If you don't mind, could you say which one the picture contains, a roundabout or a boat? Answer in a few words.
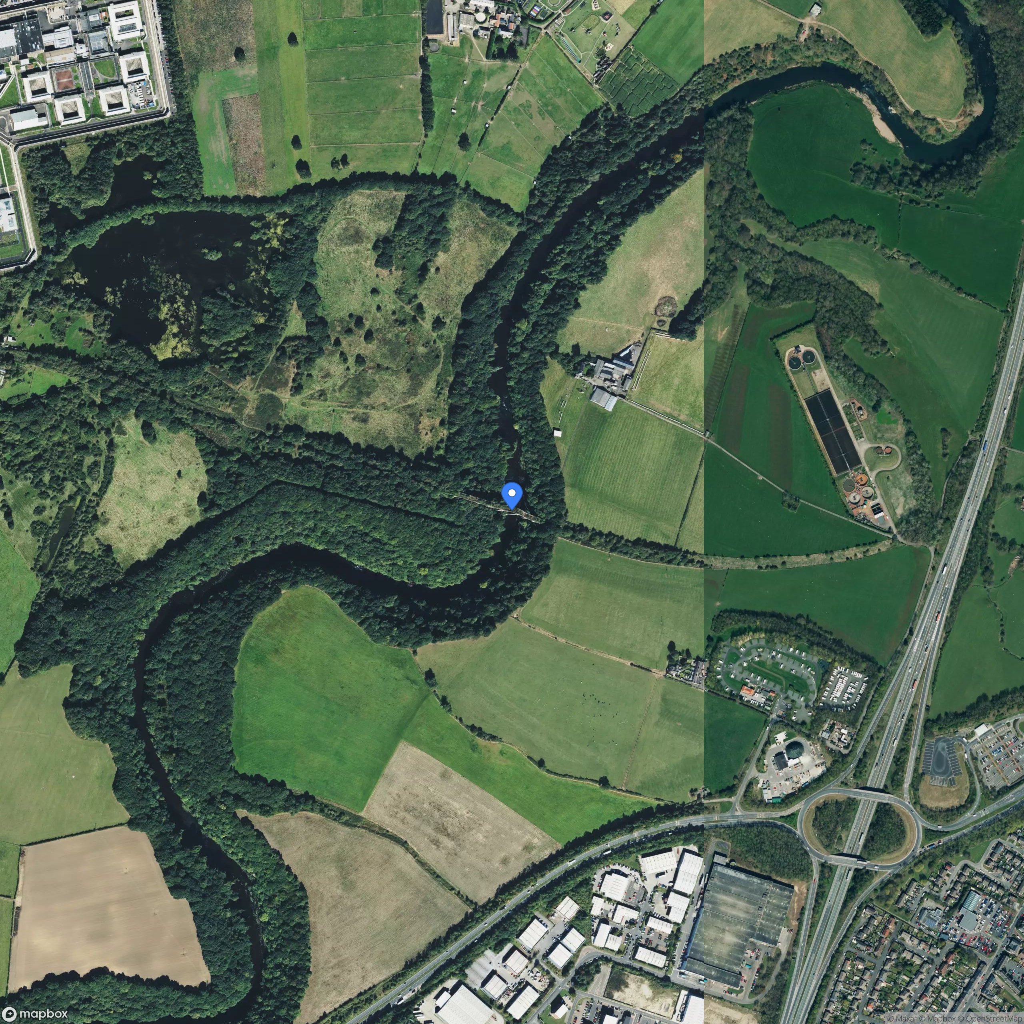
roundabout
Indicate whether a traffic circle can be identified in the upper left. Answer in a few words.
No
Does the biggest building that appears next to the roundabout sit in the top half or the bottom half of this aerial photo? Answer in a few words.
bottom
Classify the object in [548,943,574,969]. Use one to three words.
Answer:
shed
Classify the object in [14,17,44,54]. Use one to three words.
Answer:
building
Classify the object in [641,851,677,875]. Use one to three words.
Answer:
shed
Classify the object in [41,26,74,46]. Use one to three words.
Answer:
building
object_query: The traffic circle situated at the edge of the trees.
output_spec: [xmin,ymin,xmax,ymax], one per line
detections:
[798,788,922,870]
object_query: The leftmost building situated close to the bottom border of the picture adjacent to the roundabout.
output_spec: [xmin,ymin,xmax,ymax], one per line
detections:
[690,864,794,974]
